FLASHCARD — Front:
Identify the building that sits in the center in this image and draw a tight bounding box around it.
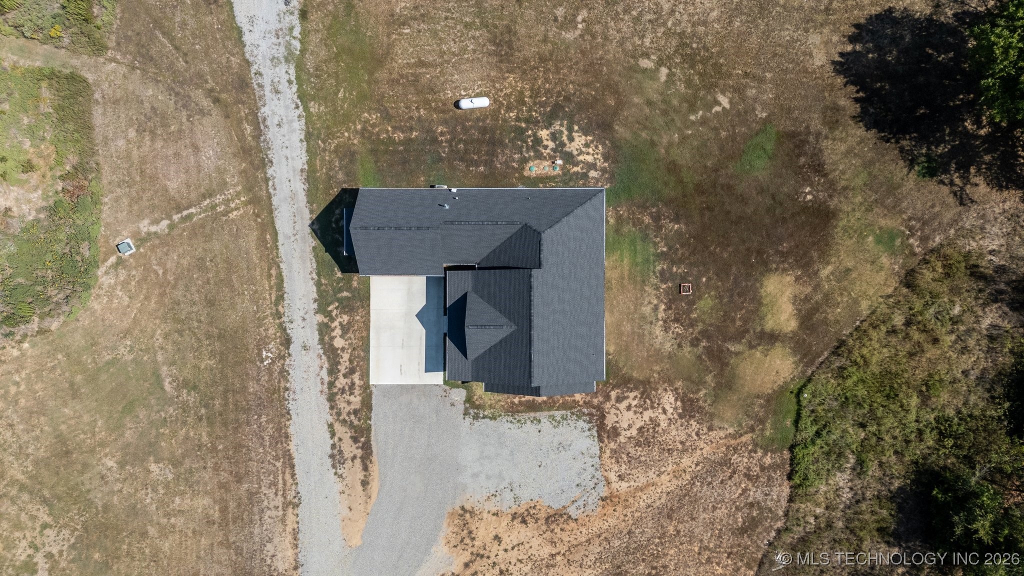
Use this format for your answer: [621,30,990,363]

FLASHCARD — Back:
[344,188,605,397]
